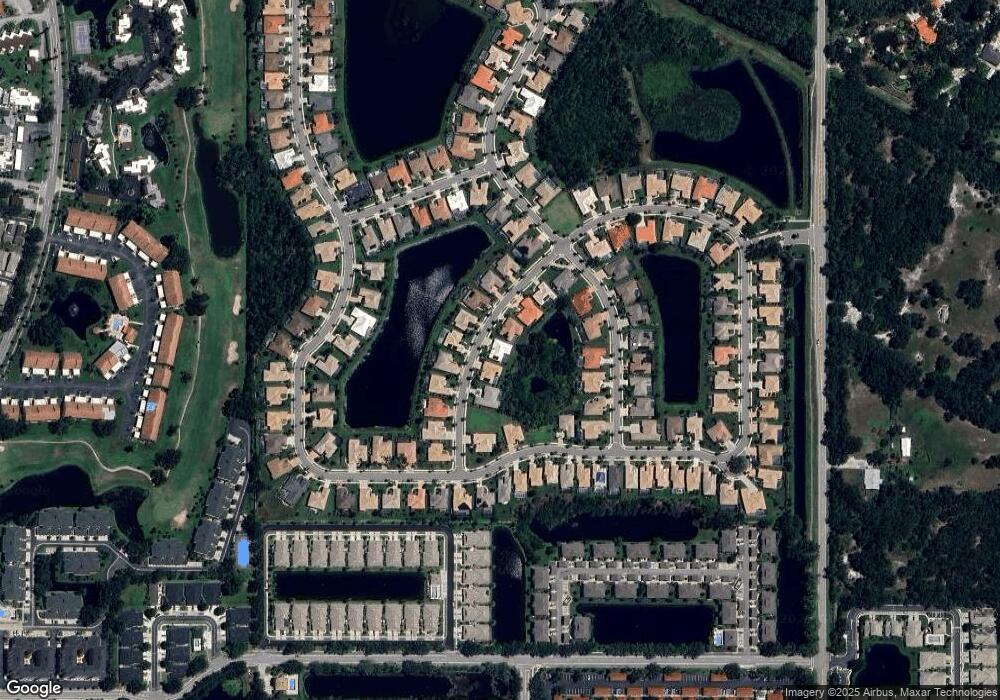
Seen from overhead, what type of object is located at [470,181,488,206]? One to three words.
house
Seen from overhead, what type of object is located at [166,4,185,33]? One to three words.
building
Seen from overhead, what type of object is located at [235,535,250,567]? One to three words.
swimming pool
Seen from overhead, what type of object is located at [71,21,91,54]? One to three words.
tennis court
